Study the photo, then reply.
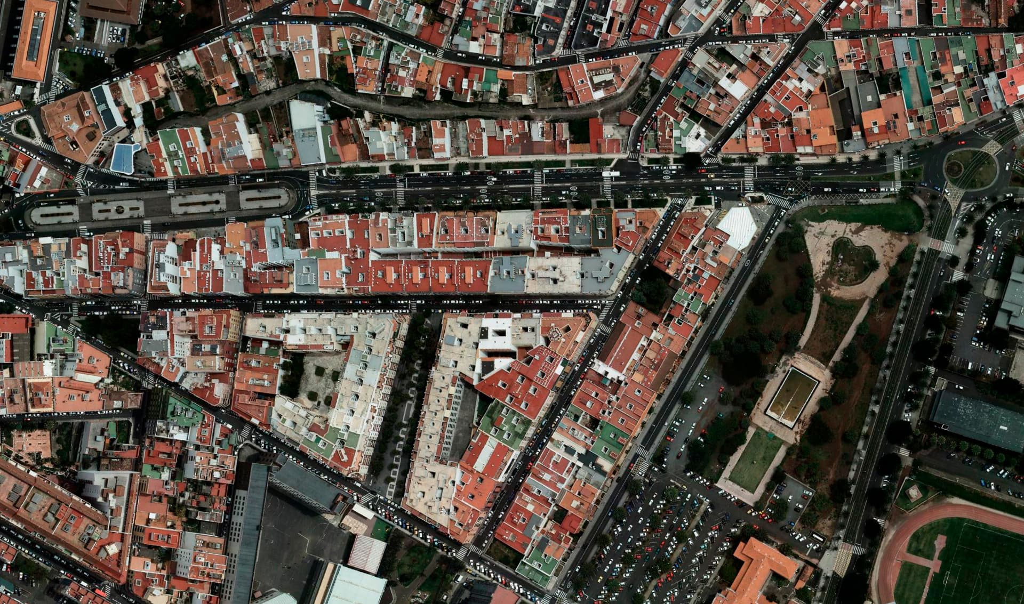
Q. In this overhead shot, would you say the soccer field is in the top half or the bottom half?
bottom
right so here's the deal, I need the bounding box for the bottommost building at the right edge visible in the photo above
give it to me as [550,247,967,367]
[930,390,1024,456]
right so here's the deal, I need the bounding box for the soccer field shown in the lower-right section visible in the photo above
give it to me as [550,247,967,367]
[892,517,1024,604]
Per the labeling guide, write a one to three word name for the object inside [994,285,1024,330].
house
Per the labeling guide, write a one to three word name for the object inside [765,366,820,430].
pond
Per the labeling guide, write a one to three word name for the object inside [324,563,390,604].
building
